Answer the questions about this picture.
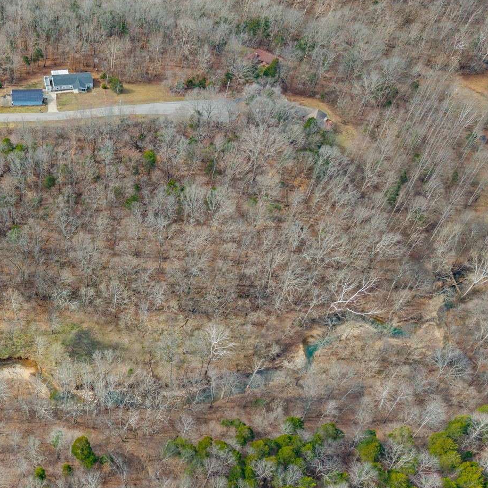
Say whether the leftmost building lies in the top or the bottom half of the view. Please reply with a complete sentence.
You can find the leftmost building in the top half.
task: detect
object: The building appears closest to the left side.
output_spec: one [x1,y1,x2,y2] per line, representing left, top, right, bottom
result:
[13,88,44,111]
